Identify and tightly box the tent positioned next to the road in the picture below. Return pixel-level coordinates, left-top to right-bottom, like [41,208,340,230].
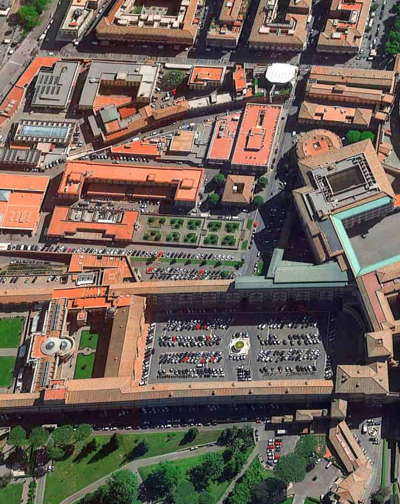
[266,63,298,86]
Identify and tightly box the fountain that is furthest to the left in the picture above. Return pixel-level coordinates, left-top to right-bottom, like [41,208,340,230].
[227,337,250,354]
